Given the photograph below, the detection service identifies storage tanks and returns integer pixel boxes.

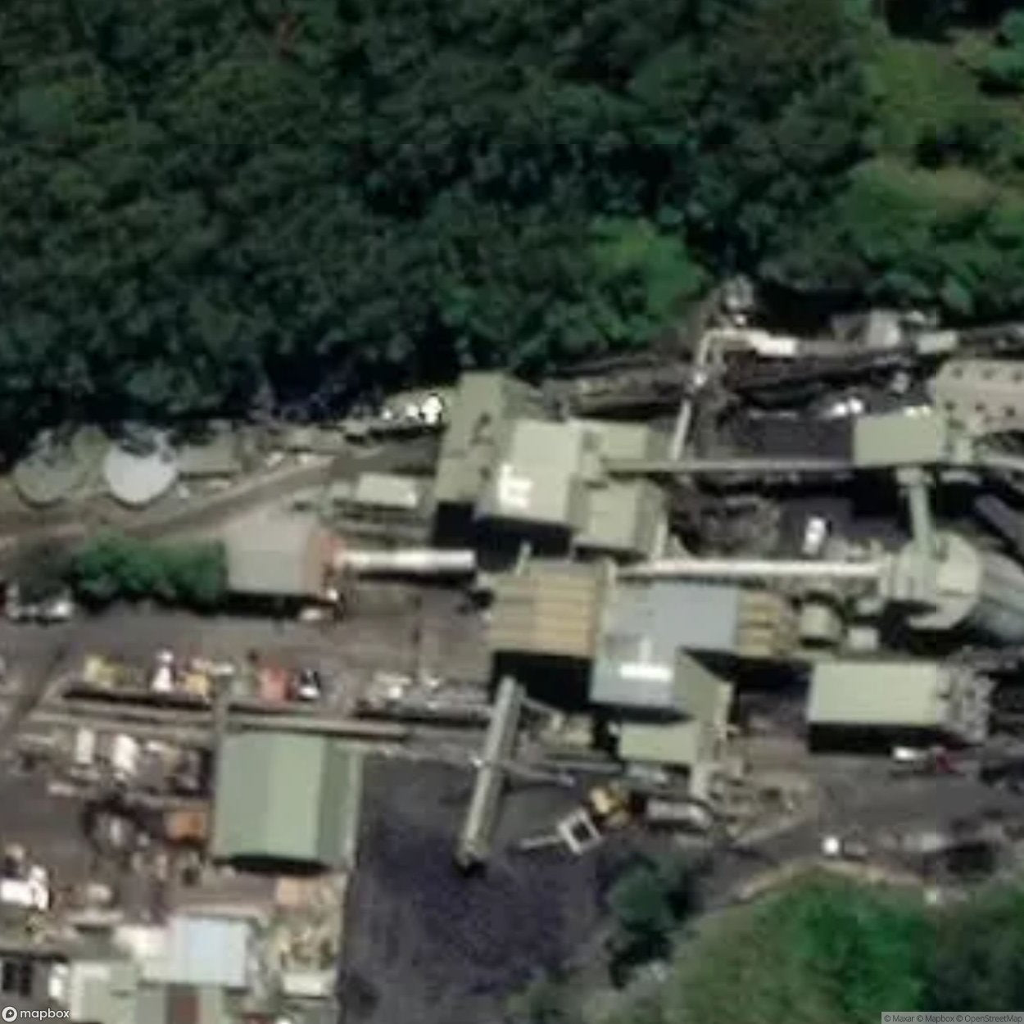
[104,432,182,506]
[13,437,91,512]
[812,603,850,646]
[70,426,116,473]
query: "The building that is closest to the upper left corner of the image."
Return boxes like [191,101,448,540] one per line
[177,443,245,475]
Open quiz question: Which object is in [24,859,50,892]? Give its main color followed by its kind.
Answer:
white truck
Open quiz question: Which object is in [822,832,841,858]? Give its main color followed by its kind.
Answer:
white vehicle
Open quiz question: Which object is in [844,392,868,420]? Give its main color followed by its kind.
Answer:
white car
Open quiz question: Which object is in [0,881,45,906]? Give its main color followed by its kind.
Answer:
white truck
